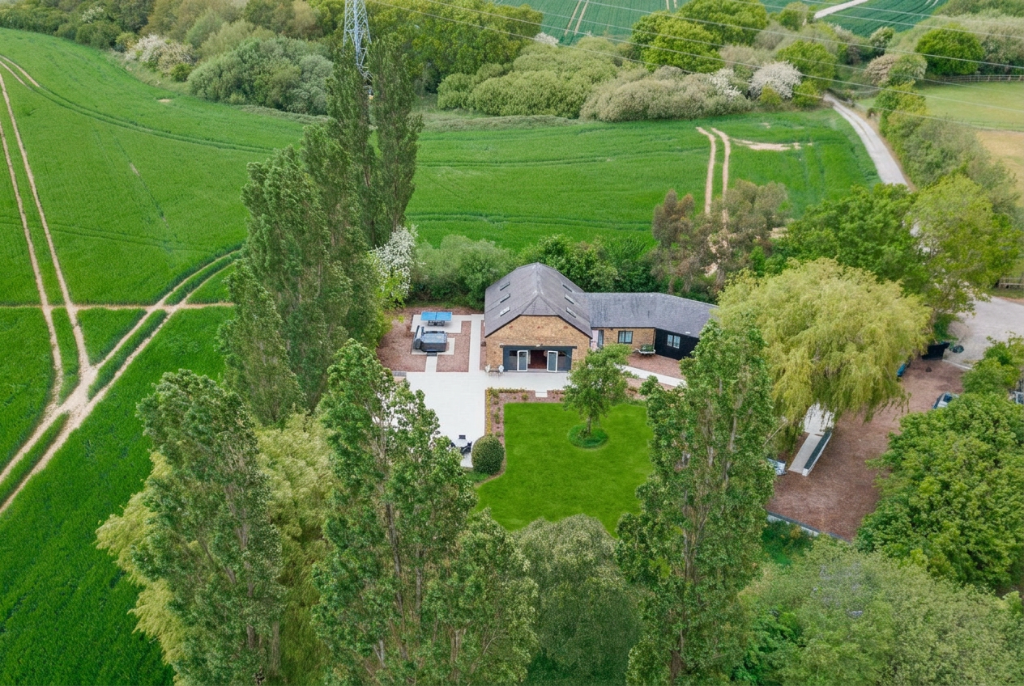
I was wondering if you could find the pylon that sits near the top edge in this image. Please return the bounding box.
[342,0,373,86]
